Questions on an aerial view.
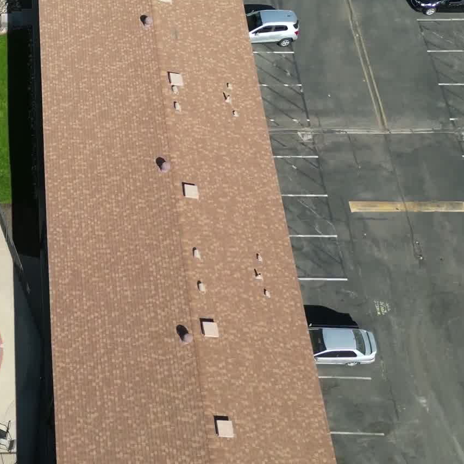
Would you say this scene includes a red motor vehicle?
No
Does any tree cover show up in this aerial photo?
No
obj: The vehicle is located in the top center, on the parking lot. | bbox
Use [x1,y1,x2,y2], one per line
[246,9,300,47]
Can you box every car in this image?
[417,0,464,15]
[246,9,300,47]
[308,322,379,366]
